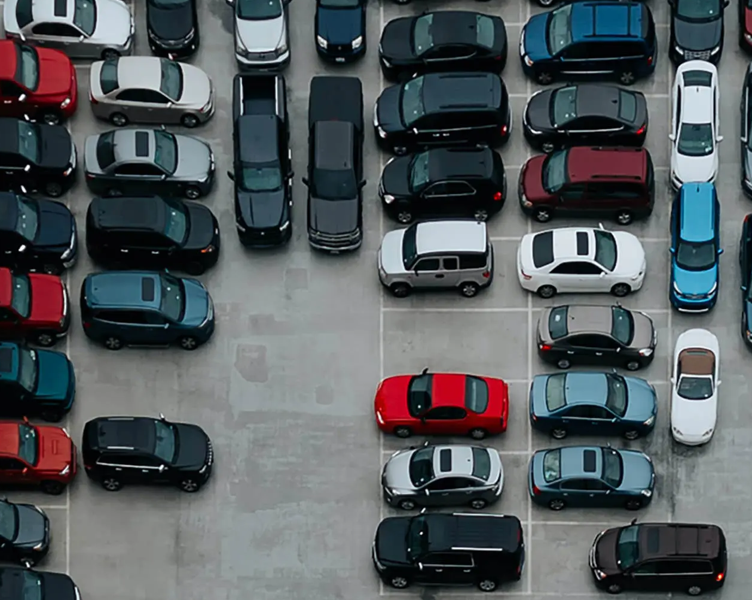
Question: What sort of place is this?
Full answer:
The picture captures a parking lot.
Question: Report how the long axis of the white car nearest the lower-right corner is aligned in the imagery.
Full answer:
The white car nearest the lower-right corner is oriented vertically.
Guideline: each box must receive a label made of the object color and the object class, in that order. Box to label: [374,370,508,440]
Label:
red car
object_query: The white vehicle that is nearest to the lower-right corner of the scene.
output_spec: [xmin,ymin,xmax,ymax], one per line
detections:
[670,329,723,442]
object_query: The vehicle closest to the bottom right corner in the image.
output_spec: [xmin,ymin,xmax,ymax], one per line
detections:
[591,523,729,596]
